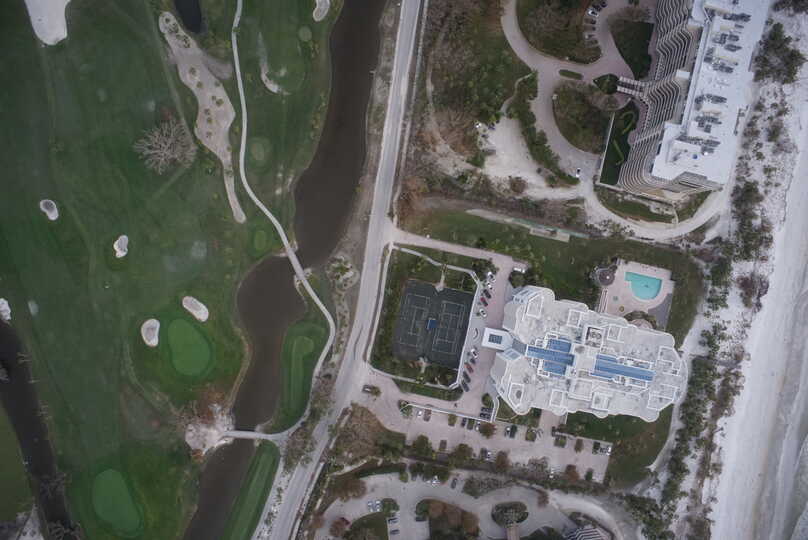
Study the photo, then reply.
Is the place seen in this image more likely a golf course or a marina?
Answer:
golf course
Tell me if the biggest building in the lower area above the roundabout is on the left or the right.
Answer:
right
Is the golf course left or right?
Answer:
left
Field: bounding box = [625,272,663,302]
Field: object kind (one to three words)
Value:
swimming pool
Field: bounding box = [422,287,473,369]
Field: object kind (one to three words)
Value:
tennis court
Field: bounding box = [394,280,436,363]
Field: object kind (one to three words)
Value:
tennis court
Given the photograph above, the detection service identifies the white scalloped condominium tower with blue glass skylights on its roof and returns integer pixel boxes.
[482,283,689,422]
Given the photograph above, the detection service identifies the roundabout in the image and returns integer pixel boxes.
[480,491,541,533]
